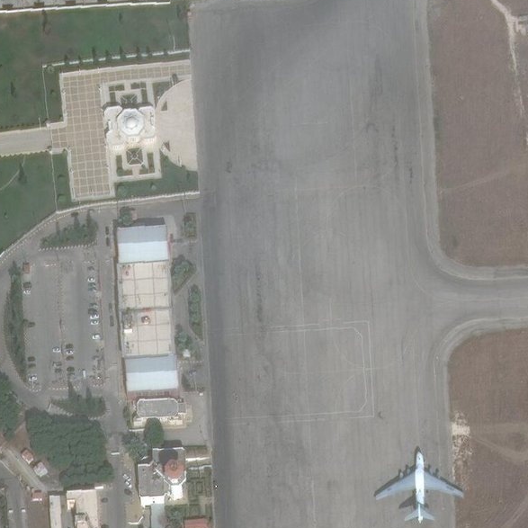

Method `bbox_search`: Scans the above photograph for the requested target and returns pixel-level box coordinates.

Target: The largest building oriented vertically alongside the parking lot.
[117,224,180,405]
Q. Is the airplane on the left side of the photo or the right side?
right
